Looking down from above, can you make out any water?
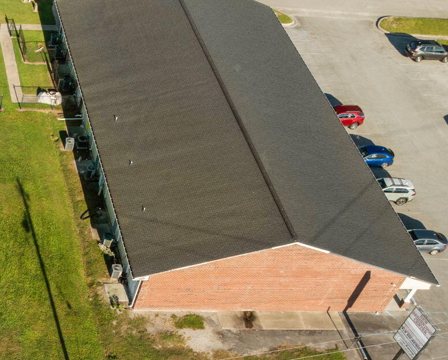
No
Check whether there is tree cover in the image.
No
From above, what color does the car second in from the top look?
red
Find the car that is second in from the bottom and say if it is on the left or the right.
right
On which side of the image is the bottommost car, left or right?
right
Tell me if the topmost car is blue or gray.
gray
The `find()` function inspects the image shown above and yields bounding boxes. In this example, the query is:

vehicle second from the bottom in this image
[374,179,415,207]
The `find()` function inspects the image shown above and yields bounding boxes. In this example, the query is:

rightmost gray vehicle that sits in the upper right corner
[404,39,448,63]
